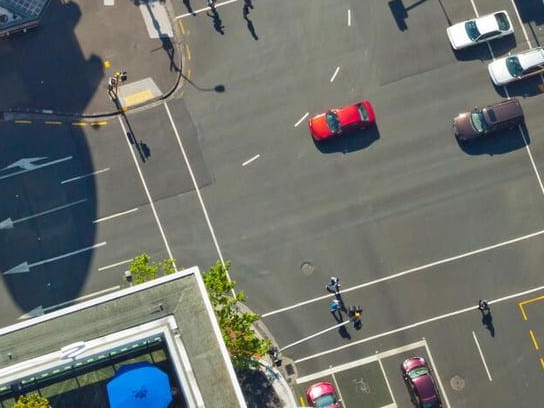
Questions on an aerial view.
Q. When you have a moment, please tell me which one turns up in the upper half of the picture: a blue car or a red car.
red car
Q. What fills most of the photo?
paved ground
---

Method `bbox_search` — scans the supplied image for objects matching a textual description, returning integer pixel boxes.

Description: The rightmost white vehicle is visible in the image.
[487,44,544,88]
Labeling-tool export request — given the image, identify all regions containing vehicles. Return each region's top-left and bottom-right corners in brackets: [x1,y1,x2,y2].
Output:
[309,381,343,408]
[452,95,527,142]
[446,9,515,52]
[487,44,544,88]
[401,354,445,408]
[307,97,379,142]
